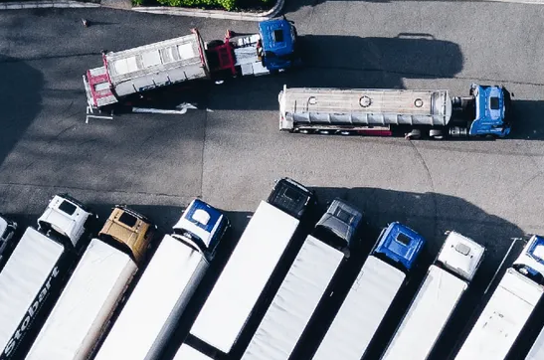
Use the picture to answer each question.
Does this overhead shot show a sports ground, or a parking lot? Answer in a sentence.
The picture captures a parking lot.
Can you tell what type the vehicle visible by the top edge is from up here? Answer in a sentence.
The vehicle visible by the top edge can be classified as a truck.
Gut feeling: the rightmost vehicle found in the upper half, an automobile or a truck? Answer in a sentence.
The rightmost vehicle found in the upper half can be classified as a truck.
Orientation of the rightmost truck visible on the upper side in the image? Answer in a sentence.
The rightmost truck visible on the upper side is laid out from left to right.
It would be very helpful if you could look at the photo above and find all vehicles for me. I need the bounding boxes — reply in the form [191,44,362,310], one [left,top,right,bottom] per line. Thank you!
[312,217,433,360]
[78,15,306,128]
[240,193,374,360]
[25,202,160,360]
[0,190,97,360]
[174,172,323,360]
[96,194,235,360]
[378,229,493,360]
[275,80,508,143]
[455,231,544,360]
[0,215,26,275]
